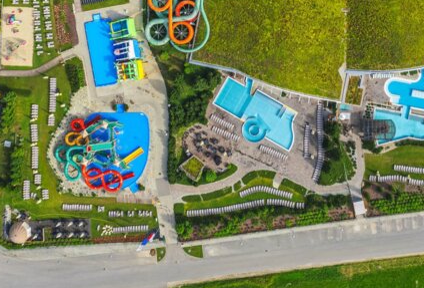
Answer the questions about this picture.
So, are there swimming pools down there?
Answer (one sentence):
Yes, there is a swimming pool in the image.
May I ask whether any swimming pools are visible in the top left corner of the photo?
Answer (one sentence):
Yes, a swimming pool is visible in the top left corner of the photo.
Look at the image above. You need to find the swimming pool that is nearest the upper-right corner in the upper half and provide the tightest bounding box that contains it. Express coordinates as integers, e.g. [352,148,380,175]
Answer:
[385,68,424,112]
